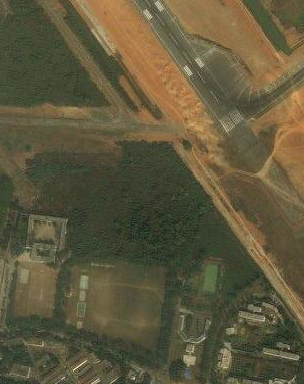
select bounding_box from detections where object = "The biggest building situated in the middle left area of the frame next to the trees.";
[27,214,68,249]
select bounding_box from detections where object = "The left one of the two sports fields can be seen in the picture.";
[13,264,58,317]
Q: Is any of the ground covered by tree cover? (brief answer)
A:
Yes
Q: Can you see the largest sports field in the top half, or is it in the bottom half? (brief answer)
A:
bottom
